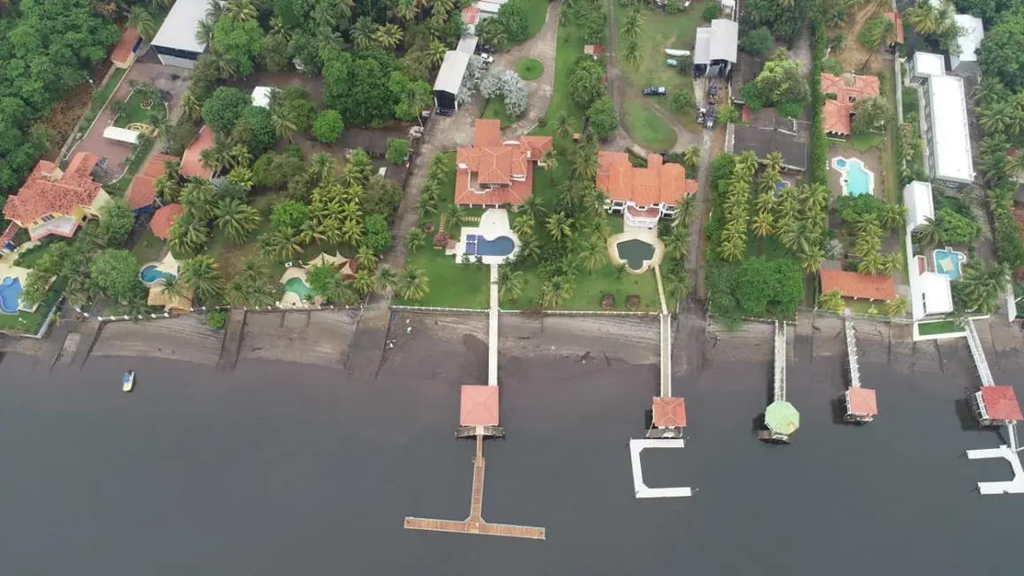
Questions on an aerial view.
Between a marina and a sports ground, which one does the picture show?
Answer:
marina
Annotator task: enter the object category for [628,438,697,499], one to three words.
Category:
pier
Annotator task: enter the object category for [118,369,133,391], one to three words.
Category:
boat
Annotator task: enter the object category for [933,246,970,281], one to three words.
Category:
swimming pool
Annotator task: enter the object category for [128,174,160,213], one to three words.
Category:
house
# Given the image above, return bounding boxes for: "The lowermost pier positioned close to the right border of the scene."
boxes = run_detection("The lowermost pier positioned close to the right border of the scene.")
[962,444,1024,497]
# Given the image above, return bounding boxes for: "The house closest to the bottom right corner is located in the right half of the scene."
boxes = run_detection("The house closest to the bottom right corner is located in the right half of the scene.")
[922,275,953,317]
